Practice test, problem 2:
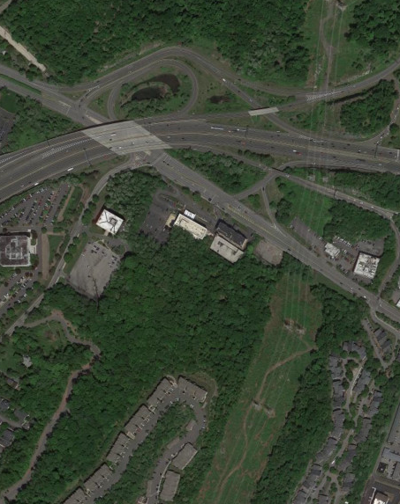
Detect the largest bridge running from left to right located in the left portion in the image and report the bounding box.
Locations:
[83,120,172,154]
